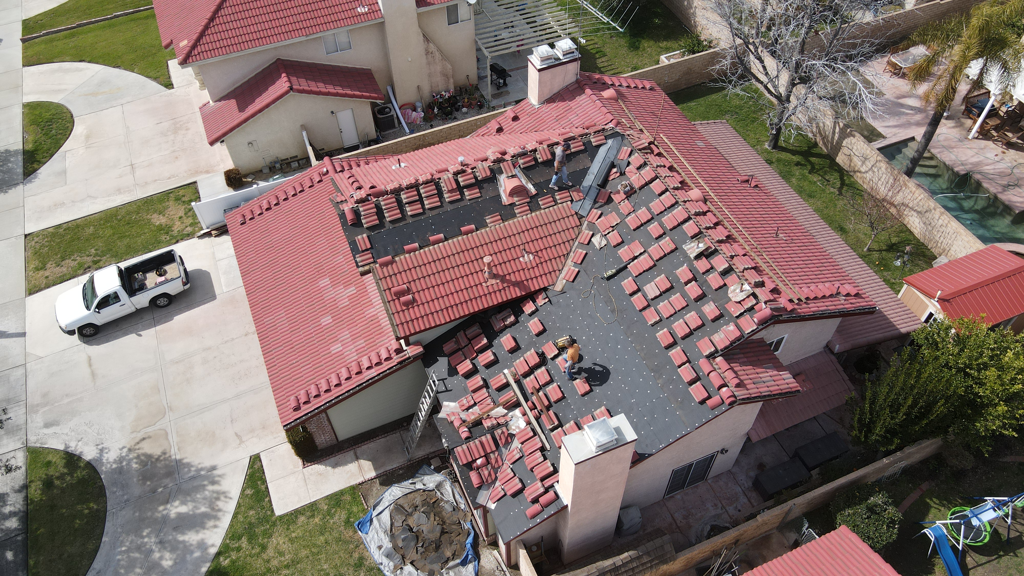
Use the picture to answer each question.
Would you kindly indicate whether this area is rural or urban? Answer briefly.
urban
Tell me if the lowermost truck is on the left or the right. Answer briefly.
left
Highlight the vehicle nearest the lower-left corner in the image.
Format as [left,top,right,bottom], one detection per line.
[52,250,193,338]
